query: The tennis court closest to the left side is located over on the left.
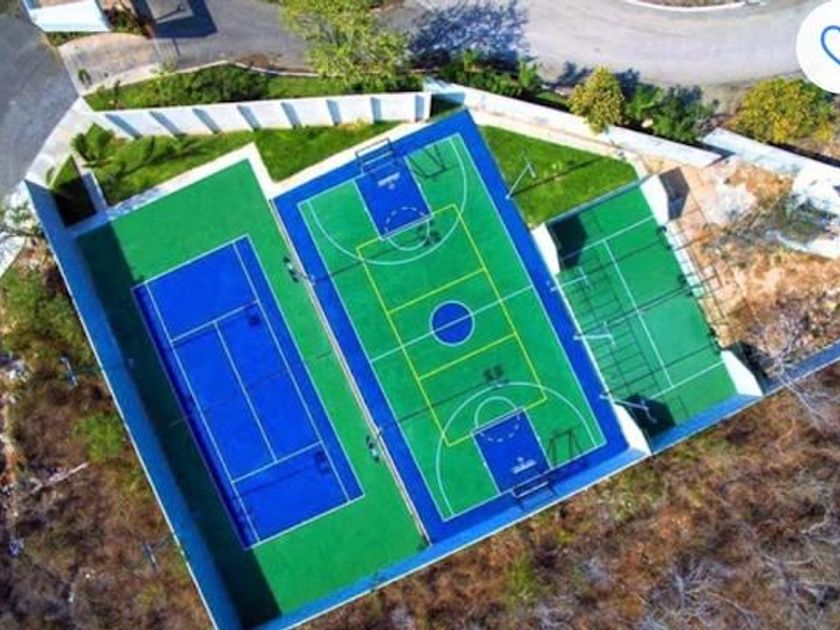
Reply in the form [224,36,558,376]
[72,161,423,630]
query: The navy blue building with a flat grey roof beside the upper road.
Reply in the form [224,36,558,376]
[151,0,217,40]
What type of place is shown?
sports ground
